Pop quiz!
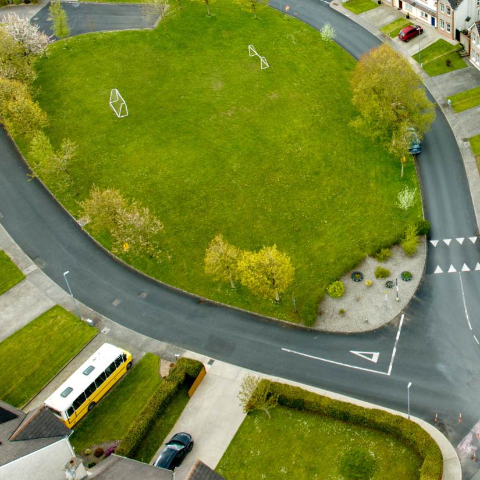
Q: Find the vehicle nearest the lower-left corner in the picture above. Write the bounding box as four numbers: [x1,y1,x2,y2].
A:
[38,347,134,427]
